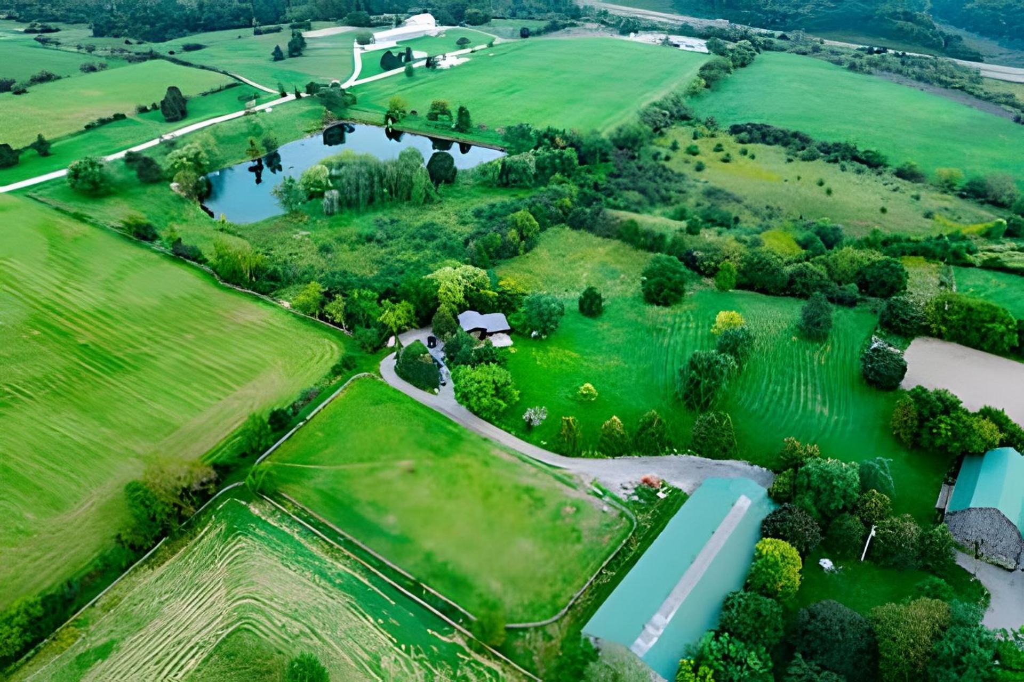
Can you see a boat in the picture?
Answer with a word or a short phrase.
No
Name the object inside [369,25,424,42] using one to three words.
shed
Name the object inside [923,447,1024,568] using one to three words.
barn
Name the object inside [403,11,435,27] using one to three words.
barn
